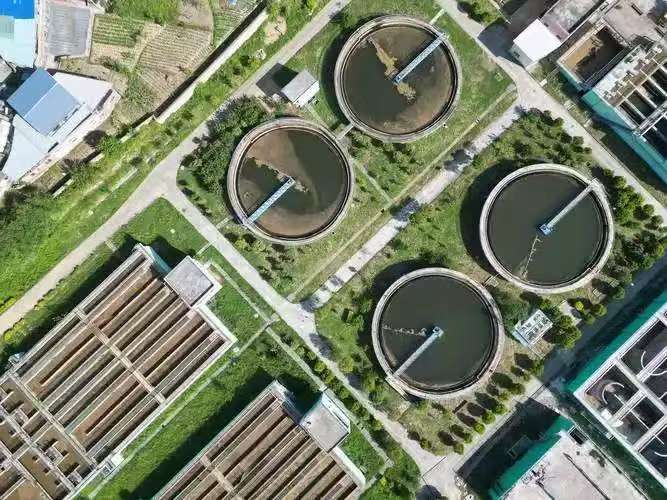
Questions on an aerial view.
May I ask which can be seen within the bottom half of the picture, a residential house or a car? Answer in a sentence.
Looking within the bottom half of the picture, you will find a residential house.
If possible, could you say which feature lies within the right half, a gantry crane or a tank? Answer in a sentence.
There is a tank within the right half.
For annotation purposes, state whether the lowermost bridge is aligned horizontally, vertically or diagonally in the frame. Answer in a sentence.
The lowermost bridge is oriented diagonally.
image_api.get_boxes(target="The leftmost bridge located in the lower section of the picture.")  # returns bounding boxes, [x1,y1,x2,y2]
[388,327,447,383]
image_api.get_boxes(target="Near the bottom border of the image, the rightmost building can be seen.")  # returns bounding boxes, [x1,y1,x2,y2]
[475,417,647,500]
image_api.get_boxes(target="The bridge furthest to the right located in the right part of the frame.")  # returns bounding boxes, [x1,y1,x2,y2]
[541,180,599,236]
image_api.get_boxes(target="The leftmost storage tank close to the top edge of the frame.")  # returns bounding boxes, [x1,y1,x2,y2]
[334,16,462,146]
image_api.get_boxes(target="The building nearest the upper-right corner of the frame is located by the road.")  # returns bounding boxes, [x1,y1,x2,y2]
[539,0,595,42]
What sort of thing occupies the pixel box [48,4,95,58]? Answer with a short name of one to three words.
shed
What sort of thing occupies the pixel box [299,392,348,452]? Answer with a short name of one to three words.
building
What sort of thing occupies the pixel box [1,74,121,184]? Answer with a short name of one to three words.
house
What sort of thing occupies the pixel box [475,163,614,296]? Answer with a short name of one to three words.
storage tank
